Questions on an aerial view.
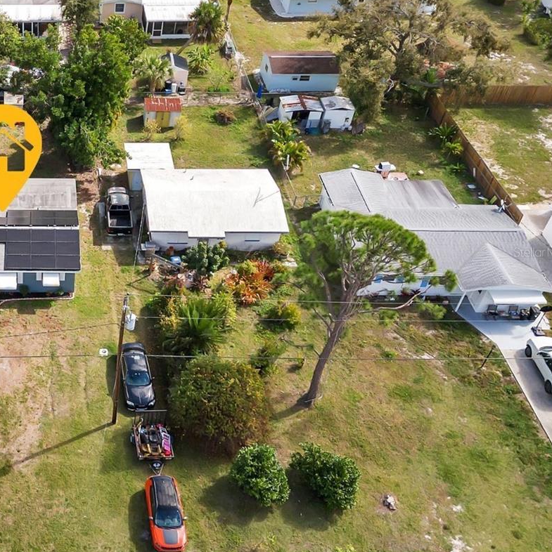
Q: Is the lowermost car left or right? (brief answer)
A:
left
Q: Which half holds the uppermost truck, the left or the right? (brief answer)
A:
left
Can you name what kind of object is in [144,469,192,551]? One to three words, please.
car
